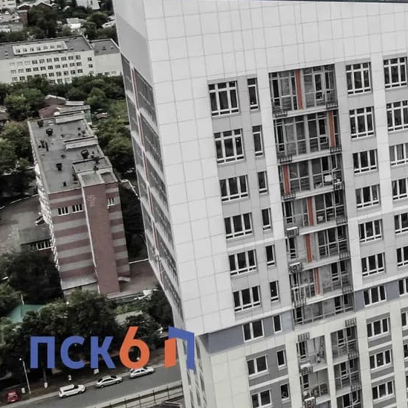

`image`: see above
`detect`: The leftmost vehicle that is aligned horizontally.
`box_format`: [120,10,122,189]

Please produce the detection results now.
[56,379,86,396]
